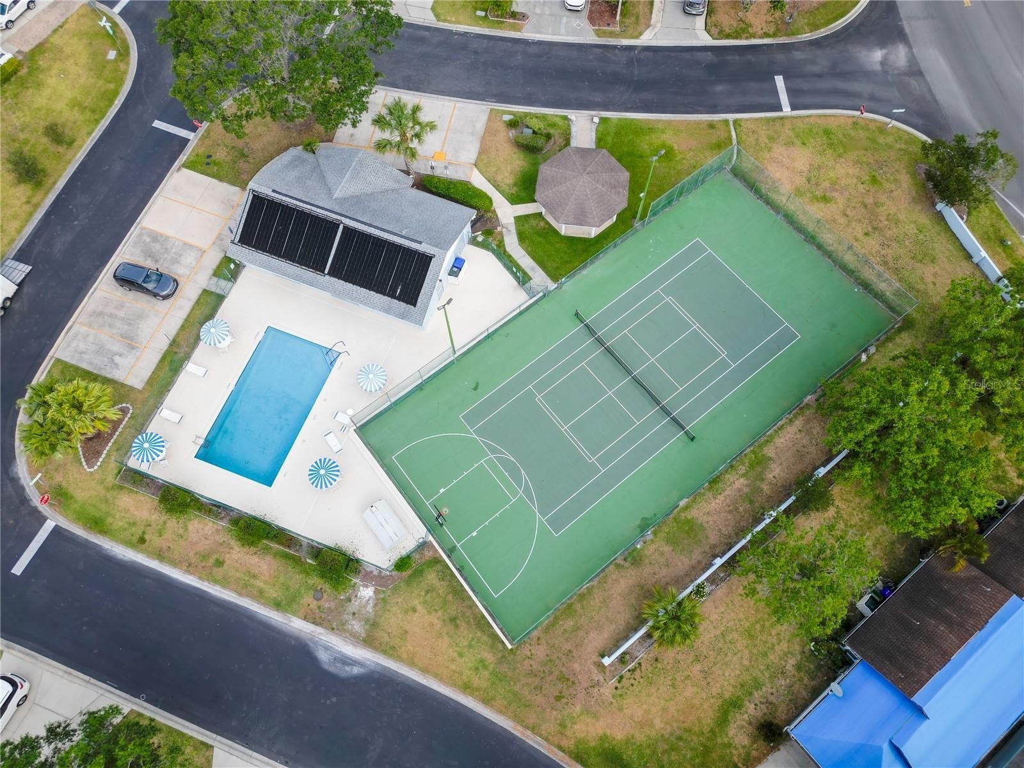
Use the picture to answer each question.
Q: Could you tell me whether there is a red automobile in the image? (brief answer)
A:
No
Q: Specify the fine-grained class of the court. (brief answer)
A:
tennis court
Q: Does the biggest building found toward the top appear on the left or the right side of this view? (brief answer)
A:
left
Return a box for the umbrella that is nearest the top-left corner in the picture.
[202,321,232,349]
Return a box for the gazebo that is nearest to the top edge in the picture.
[535,148,629,238]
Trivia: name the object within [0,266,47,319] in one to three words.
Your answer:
trailer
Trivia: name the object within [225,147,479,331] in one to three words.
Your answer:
building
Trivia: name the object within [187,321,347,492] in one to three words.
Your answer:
swimming pool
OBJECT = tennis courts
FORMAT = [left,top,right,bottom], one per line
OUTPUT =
[359,166,901,647]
